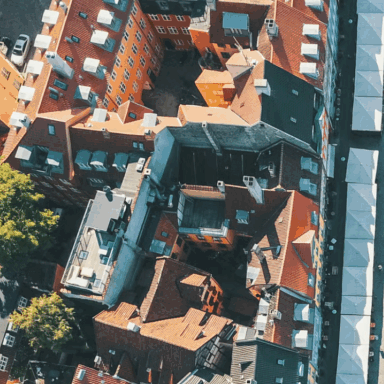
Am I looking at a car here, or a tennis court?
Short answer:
car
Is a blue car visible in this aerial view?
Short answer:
No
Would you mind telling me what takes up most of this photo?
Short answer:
buildings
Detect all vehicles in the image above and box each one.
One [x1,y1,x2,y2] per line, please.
[0,32,15,58]
[7,33,33,67]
